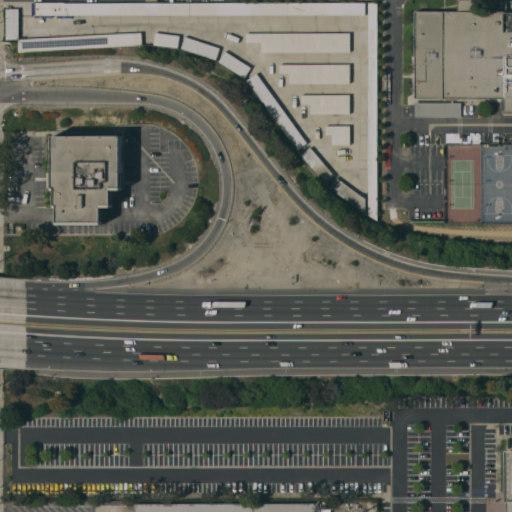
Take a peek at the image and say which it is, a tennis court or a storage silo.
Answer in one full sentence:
Of the two, only a tennis court appears.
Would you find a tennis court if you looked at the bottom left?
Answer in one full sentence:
No, no tennis court appears at the bottom left.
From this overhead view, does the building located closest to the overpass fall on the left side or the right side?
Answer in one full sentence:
It is on the left.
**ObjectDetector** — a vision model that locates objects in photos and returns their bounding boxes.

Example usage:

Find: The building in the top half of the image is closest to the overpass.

[50,136,122,226]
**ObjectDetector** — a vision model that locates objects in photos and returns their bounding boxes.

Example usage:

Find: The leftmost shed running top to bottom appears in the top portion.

[6,8,19,40]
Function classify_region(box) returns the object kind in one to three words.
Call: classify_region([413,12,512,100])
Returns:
building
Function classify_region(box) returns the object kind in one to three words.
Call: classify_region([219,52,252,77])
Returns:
shed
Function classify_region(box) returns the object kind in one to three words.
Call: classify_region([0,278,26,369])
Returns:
overpass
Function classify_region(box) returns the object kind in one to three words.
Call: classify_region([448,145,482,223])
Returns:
tennis court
